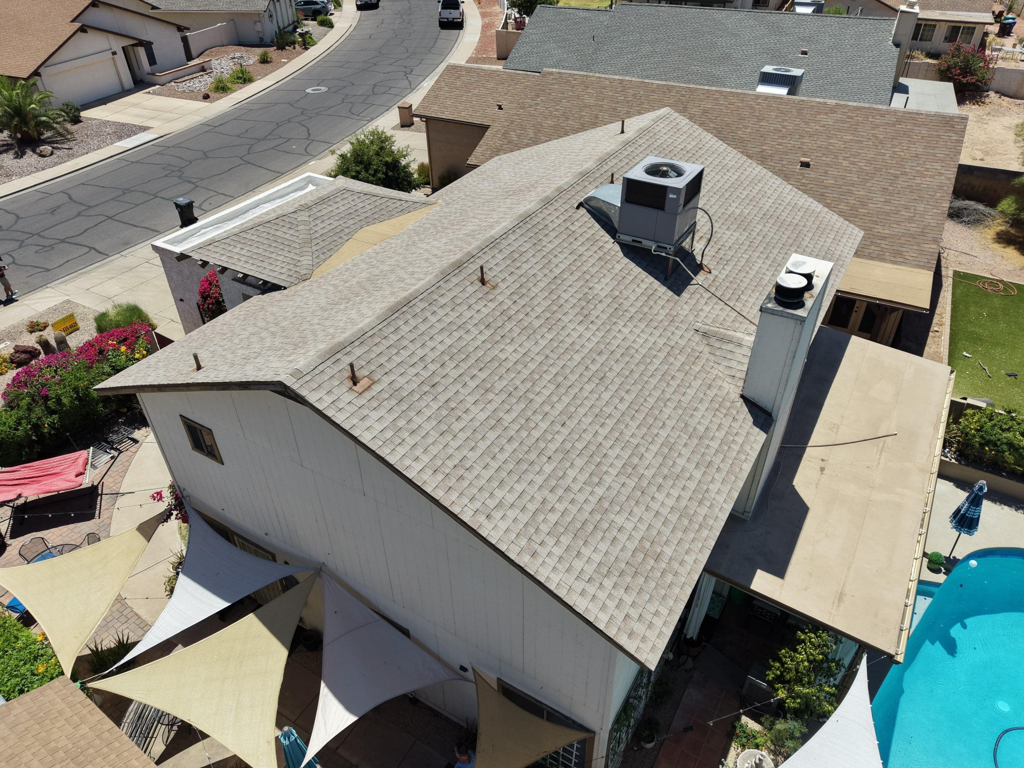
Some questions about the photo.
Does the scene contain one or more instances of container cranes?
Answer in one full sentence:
No, I can see no container crane in this picture.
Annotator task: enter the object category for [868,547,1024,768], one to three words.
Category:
swimming pool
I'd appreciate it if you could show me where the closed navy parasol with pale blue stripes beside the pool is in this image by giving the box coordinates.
[948,485,994,565]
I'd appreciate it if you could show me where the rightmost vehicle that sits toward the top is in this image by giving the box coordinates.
[438,0,464,28]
